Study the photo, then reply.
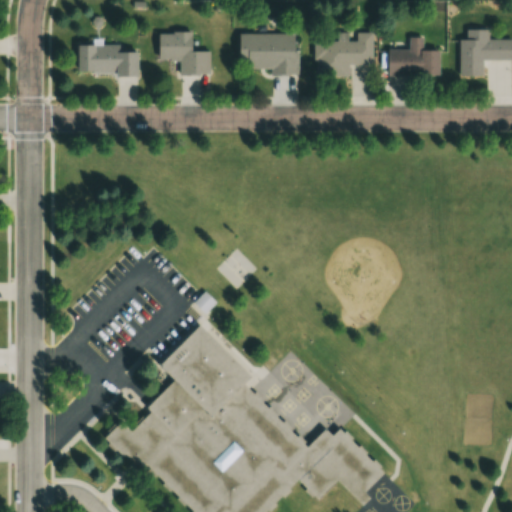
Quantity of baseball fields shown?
1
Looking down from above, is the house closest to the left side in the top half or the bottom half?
top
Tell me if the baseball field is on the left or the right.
right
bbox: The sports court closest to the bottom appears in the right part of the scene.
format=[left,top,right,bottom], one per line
[358,472,424,512]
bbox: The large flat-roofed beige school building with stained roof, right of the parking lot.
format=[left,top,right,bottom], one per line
[104,326,386,512]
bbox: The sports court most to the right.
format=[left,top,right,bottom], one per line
[464,394,494,445]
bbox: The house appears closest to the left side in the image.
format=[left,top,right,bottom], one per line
[80,38,140,76]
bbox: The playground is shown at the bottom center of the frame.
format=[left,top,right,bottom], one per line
[250,351,354,444]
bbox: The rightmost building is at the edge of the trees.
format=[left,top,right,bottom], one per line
[462,29,512,76]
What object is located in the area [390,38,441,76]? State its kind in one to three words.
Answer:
house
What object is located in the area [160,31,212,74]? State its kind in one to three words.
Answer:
house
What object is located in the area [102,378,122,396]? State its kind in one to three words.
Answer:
vehicle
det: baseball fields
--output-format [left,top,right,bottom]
[324,236,402,328]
